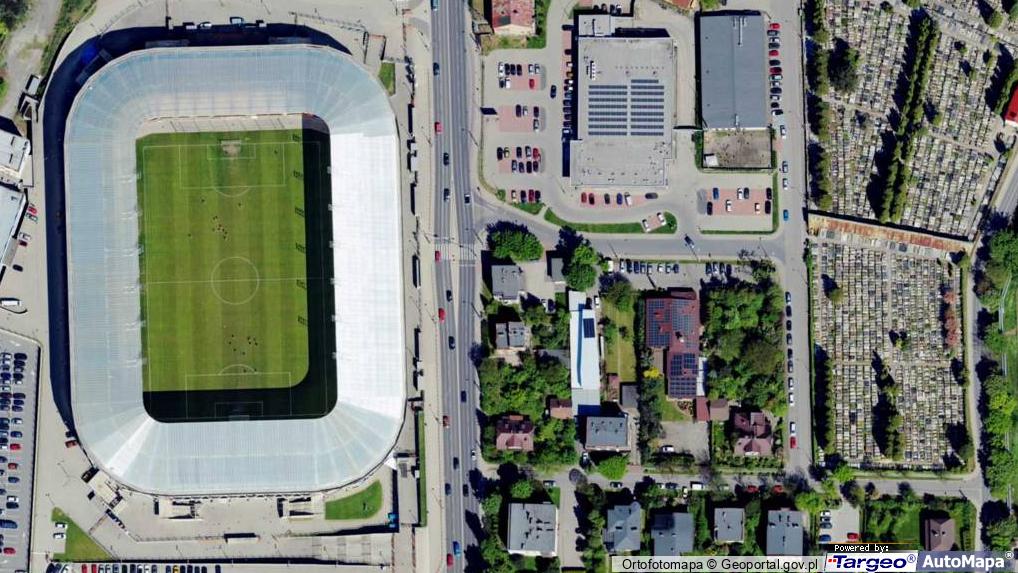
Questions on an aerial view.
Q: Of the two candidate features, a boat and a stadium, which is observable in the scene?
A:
stadium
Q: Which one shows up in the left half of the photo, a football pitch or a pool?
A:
football pitch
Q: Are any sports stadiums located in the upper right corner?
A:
No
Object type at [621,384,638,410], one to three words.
shed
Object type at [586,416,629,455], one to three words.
house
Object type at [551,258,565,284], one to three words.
building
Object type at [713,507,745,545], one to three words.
house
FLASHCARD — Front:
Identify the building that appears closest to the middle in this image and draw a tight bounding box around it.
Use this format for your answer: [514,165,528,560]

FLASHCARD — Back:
[492,265,522,306]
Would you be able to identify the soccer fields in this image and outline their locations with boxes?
[135,129,336,421]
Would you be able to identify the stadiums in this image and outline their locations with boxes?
[64,42,407,500]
